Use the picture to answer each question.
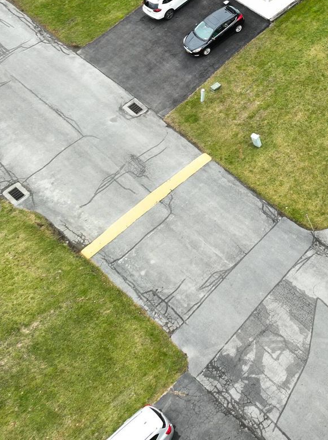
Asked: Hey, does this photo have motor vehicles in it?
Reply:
Yes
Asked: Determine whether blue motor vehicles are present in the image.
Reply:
No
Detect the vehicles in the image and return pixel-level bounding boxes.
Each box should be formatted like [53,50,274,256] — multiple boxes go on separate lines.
[106,407,177,440]
[185,4,245,57]
[143,0,192,20]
